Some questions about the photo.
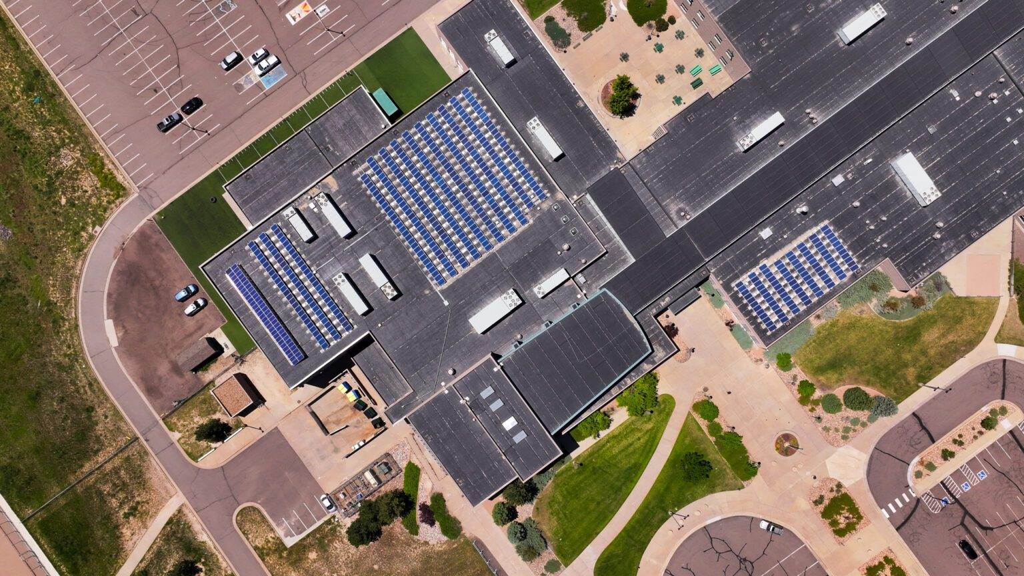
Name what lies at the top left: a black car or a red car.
black car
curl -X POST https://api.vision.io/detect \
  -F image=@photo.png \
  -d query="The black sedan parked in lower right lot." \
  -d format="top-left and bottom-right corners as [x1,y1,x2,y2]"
[958,538,977,560]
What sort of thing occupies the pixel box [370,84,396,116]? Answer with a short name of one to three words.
shed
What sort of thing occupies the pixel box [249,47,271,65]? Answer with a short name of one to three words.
car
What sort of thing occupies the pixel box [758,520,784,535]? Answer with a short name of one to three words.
vehicle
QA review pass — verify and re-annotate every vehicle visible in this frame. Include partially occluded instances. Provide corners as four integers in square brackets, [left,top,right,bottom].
[182,96,204,116]
[319,491,337,511]
[222,52,244,71]
[958,538,977,560]
[155,112,183,134]
[176,284,198,301]
[185,297,207,315]
[758,520,784,535]
[255,54,281,77]
[249,47,271,65]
